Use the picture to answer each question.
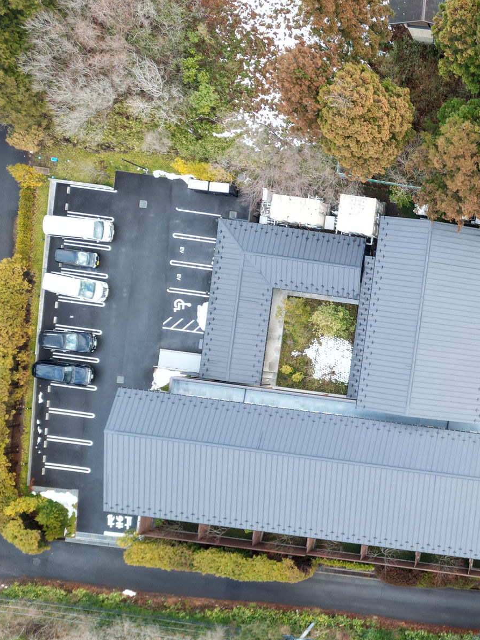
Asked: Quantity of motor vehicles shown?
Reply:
5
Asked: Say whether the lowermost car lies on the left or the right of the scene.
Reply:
left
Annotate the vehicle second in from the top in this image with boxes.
[50,246,96,268]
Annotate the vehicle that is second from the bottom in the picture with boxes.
[34,330,96,356]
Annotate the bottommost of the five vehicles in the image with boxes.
[29,360,94,388]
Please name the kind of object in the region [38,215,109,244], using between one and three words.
van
